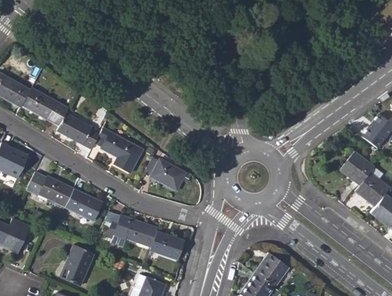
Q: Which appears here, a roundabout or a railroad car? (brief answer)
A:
roundabout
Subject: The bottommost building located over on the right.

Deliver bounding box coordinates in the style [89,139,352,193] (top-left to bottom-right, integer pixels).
[236,252,290,296]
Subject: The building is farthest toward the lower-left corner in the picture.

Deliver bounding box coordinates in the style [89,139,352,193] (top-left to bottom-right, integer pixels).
[0,218,29,251]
